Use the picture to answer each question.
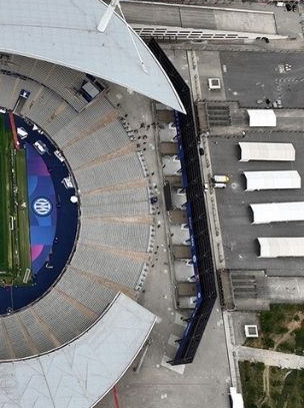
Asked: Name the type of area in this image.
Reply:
sports ground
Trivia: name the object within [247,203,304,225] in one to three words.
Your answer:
tent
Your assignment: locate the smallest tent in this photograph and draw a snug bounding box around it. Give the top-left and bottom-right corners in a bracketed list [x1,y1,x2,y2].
[244,111,277,128]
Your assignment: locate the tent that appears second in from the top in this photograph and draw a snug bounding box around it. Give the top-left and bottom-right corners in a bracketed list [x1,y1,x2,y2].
[236,144,295,163]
